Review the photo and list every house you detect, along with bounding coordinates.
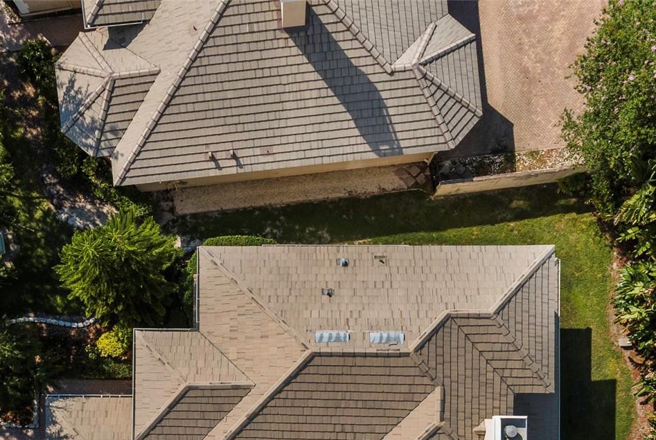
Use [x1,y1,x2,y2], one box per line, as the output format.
[41,242,562,440]
[8,0,484,191]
